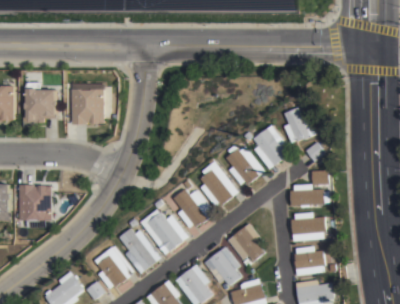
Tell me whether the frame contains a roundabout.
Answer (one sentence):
No, no roundabout is visible in the scene.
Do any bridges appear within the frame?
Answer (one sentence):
No, the frame has no bridge in it.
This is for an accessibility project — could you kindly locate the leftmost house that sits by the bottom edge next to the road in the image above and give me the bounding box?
[46,272,85,304]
